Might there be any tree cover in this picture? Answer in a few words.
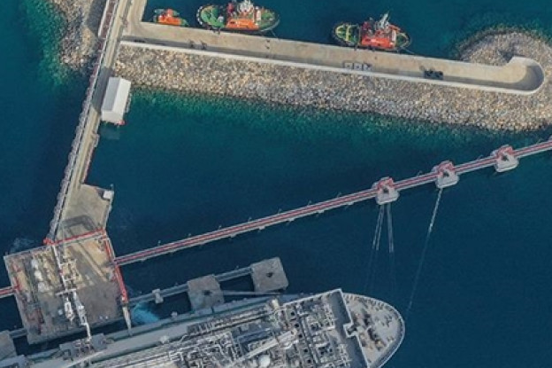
No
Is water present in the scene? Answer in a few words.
Yes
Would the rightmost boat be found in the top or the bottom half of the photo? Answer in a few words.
top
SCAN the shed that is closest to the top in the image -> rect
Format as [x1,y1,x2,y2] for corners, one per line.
[101,76,132,131]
